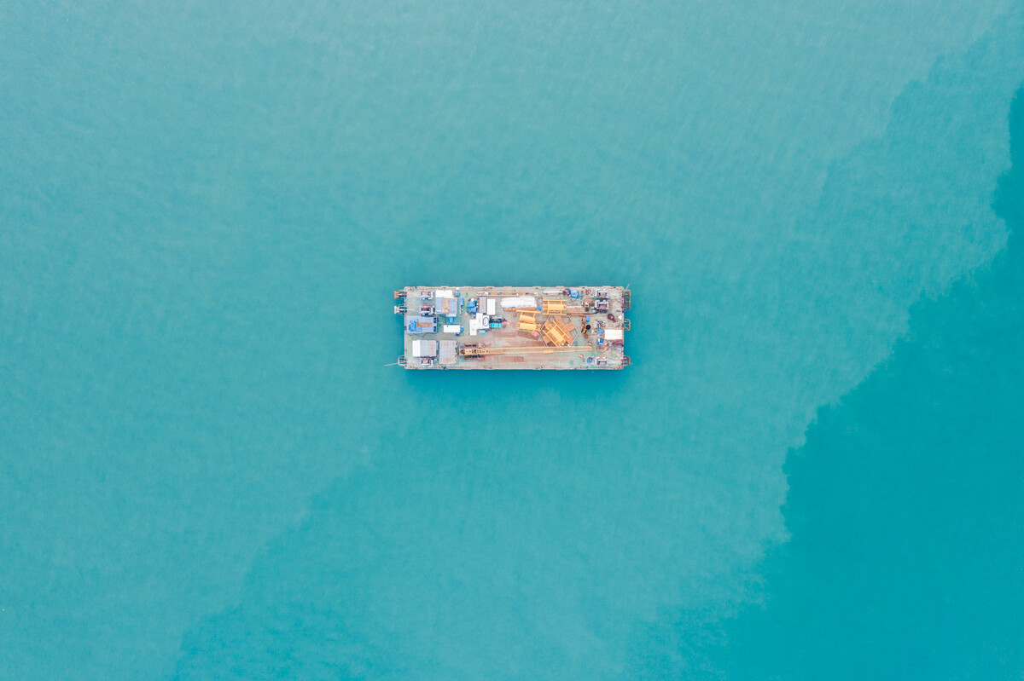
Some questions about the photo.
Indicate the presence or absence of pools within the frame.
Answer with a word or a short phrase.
No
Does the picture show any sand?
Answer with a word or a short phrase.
No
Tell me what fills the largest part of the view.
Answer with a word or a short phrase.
water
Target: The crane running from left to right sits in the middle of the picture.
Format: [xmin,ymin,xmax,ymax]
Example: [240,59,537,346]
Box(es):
[459,342,592,360]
